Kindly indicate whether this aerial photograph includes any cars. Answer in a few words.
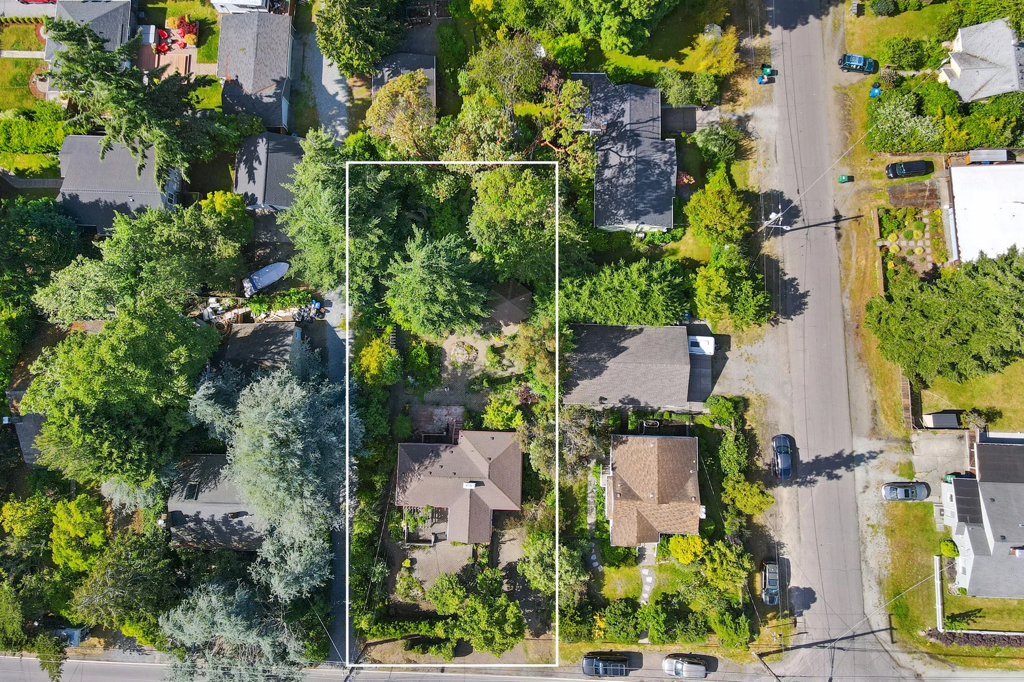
Yes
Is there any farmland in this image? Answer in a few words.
No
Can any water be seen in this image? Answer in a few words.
No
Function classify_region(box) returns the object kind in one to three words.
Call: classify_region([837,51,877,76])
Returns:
car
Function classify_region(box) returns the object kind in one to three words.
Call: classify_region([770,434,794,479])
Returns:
car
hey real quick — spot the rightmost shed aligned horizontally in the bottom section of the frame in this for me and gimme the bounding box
[921,413,959,428]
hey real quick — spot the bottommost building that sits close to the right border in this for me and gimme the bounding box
[940,442,1024,598]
